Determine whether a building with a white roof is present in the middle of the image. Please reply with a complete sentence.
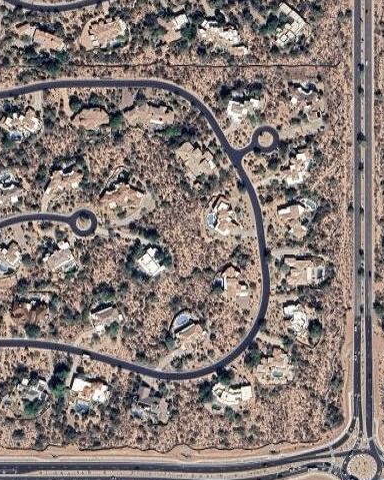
Yes, I can see a building with a white roof in the middle of the image.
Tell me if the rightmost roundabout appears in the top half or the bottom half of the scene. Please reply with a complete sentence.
The rightmost roundabout sits in the bottom half of the picture.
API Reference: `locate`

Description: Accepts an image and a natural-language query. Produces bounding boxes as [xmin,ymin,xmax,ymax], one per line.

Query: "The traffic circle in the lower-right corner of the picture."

[332,417,384,480]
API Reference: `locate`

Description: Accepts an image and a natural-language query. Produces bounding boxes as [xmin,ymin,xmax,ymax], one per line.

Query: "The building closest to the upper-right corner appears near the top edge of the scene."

[275,0,310,47]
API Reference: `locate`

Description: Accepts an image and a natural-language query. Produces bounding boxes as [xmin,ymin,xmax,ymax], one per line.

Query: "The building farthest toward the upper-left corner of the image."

[16,22,67,49]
